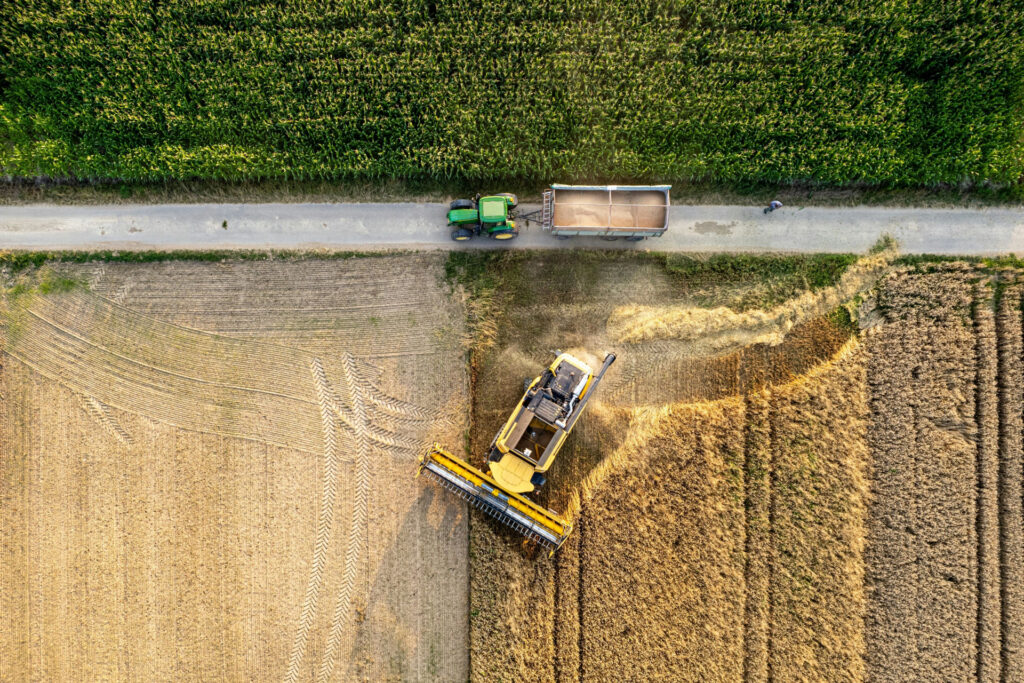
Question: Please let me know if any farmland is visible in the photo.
Yes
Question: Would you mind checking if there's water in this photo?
No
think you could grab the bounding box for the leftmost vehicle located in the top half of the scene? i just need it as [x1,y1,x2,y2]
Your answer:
[446,193,523,239]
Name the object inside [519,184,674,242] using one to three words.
trailer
